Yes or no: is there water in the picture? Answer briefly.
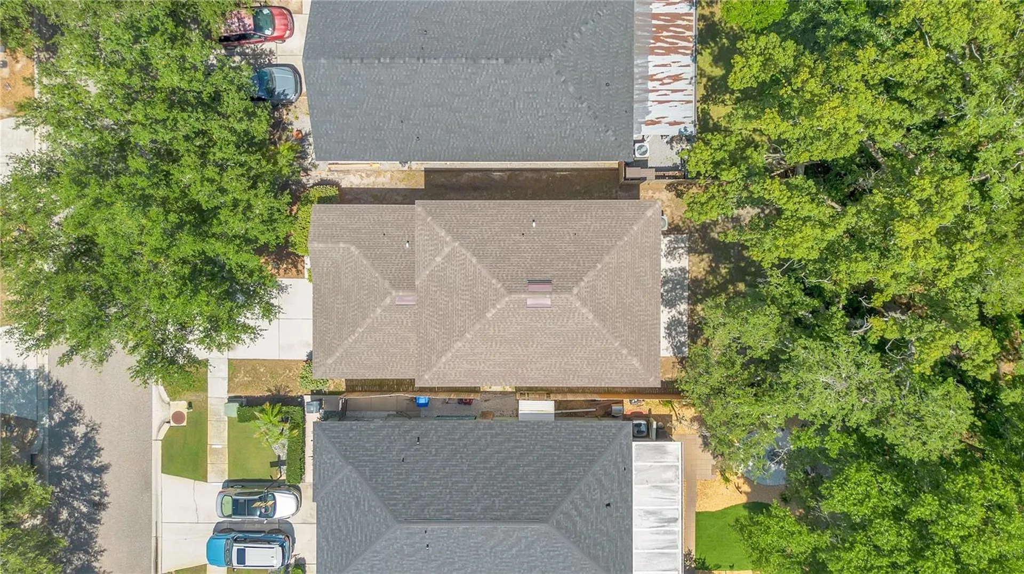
No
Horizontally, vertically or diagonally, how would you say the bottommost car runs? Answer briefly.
horizontally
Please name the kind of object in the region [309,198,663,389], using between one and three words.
house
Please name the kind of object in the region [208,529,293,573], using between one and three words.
car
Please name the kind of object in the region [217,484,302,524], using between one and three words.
car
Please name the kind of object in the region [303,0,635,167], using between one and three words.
house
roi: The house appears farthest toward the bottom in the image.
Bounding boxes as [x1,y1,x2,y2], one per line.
[311,419,634,574]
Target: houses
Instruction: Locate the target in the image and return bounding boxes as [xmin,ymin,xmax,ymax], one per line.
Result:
[311,419,634,574]
[303,0,635,167]
[309,198,663,389]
